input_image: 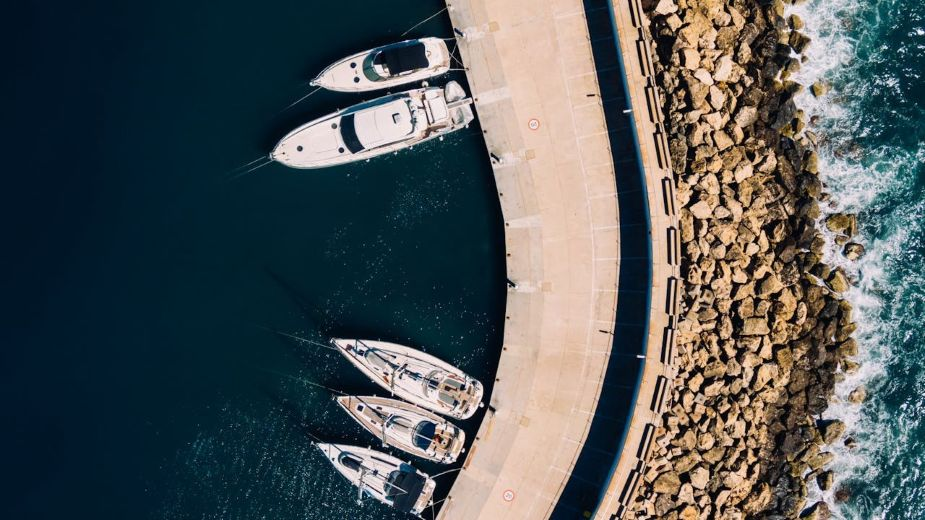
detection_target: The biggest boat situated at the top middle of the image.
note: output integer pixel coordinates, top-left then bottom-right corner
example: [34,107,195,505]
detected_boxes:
[265,81,474,167]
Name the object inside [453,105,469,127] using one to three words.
boat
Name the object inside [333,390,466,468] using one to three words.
boat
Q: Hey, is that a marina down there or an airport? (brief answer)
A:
marina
